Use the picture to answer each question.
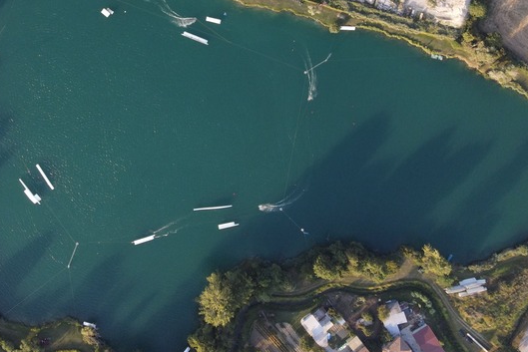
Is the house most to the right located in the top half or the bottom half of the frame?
bottom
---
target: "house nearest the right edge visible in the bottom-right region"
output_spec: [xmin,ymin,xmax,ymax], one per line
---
[410,322,444,352]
